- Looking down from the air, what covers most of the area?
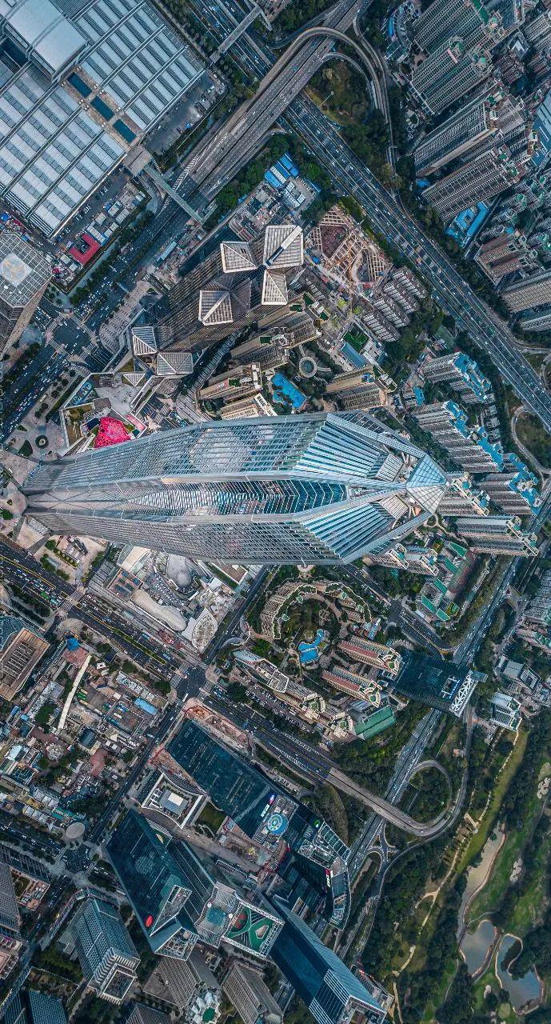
buildings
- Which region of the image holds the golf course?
bottom right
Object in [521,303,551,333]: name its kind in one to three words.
building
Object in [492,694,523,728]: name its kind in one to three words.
building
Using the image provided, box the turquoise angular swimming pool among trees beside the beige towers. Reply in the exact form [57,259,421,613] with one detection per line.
[269,372,306,407]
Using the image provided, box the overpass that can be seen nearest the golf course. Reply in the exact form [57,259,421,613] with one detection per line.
[320,762,416,827]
